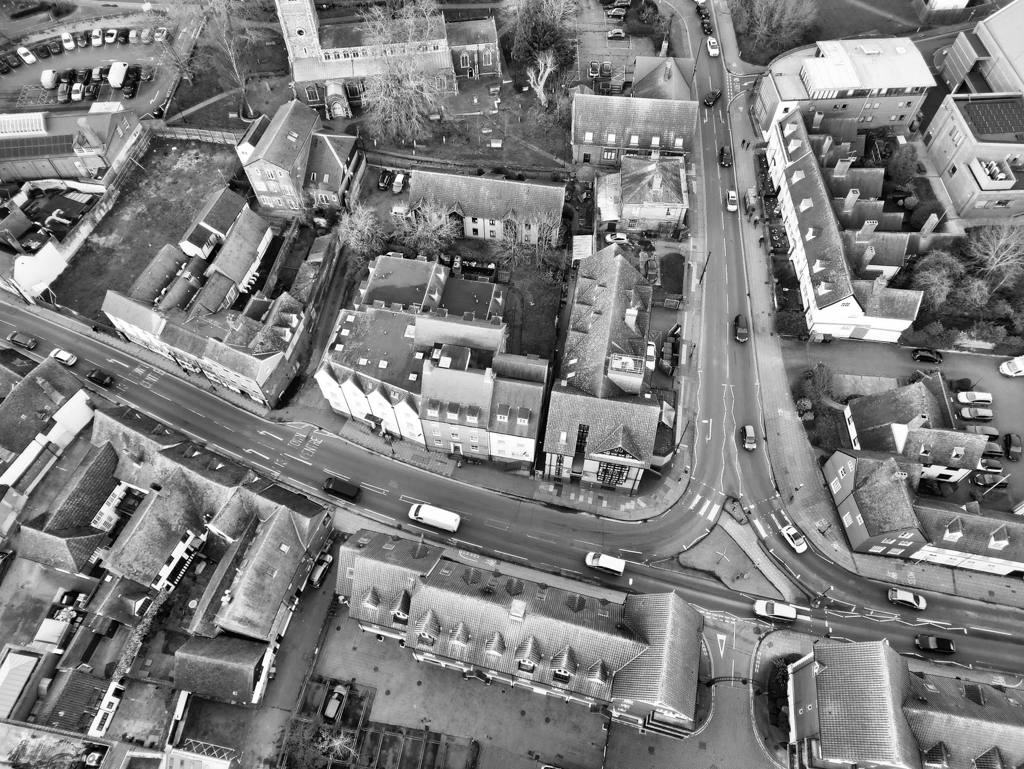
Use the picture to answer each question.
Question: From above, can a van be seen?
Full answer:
Yes, you can see a van in this photo.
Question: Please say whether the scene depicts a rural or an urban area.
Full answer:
From above, the setting appears urban.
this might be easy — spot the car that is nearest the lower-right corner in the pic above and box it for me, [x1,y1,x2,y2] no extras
[913,631,960,655]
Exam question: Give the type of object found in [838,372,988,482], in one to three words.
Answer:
house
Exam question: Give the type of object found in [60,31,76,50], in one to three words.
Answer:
car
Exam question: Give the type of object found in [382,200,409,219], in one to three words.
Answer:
vehicle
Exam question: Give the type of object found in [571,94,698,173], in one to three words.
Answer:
building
